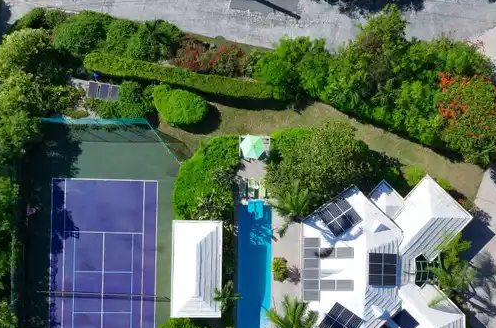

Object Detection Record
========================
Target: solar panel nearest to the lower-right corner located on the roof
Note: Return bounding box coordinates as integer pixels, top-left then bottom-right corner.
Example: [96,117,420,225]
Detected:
[392,309,419,328]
